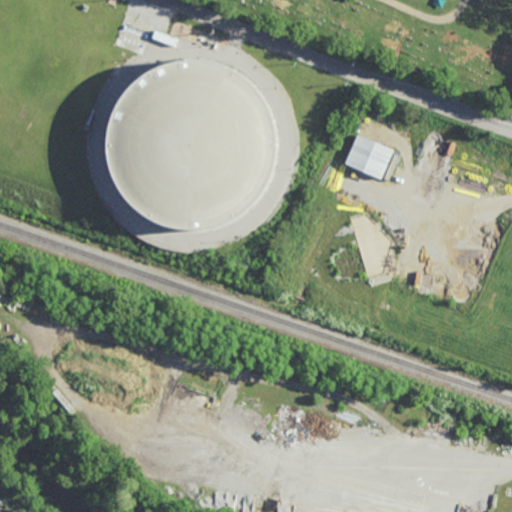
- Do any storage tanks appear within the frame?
Yes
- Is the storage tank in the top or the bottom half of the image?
top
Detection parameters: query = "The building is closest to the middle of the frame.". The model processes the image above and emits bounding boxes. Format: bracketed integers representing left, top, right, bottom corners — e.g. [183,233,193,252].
[346,135,398,180]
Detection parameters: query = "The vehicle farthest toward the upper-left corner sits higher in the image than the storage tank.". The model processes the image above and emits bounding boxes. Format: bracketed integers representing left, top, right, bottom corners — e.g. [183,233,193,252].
[120,21,145,36]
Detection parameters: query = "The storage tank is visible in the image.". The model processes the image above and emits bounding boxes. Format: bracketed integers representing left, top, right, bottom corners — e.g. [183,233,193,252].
[106,60,276,230]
